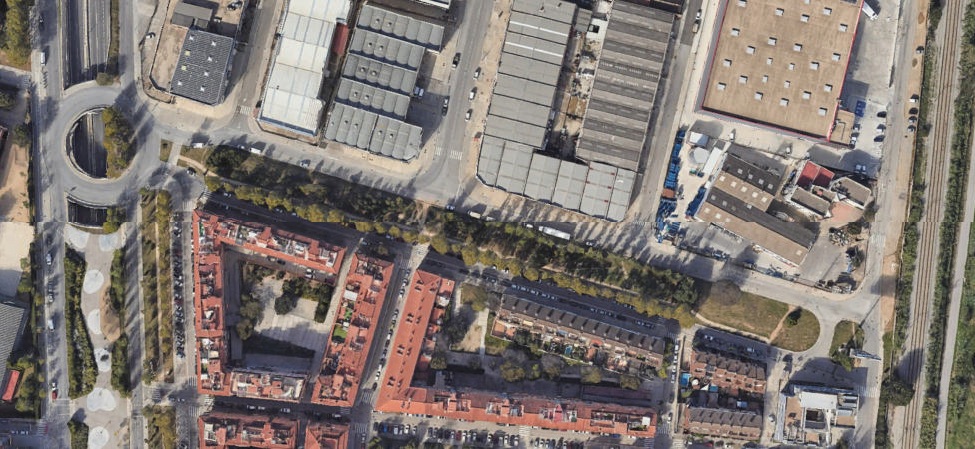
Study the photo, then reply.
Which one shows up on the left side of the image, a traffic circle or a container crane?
traffic circle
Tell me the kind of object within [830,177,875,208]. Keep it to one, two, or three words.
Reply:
house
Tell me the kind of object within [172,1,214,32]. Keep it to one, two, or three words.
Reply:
shed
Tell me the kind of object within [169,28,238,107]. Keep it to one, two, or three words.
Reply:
building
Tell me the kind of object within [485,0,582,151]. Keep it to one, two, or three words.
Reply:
building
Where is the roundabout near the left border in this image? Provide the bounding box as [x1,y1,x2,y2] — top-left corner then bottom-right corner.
[41,71,161,225]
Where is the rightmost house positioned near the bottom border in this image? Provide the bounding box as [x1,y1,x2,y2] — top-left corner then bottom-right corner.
[771,381,859,447]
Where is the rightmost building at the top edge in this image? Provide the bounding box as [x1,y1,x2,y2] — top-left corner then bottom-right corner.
[694,0,865,147]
